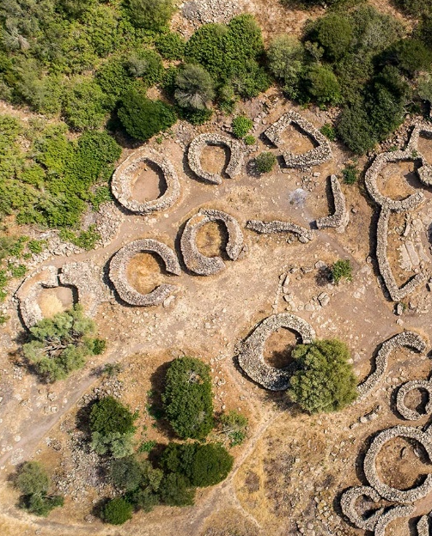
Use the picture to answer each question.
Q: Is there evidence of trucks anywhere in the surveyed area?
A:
No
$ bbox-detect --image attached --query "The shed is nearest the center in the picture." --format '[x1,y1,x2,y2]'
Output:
[182,207,247,276]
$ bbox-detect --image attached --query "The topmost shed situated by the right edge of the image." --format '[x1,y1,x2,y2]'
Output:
[364,151,425,207]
